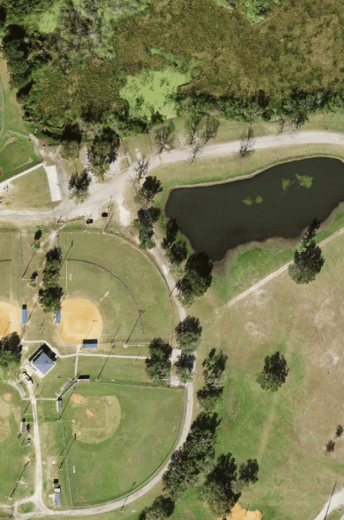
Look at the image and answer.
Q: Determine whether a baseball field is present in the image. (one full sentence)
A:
Yes, the image includes a baseball field.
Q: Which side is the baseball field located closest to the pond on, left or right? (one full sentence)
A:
You can find the baseball field located closest to the pond on the left side of the picture.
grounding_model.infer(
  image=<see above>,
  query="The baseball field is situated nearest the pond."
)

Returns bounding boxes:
[57,230,171,345]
